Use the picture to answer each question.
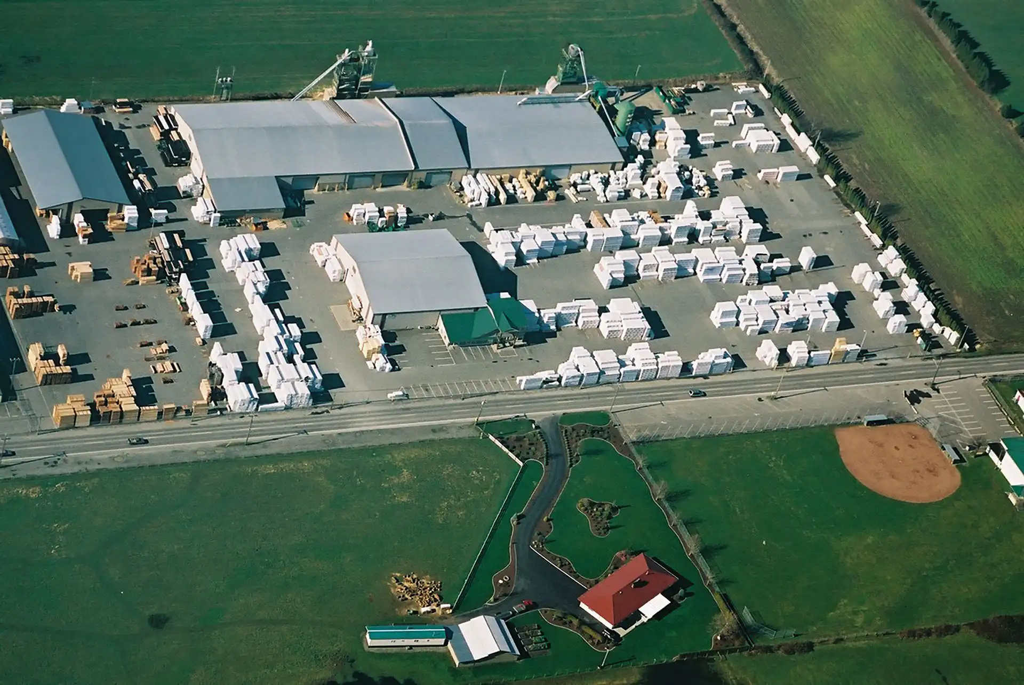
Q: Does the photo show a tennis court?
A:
No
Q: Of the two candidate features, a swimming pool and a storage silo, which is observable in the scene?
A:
storage silo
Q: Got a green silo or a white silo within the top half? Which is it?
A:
green silo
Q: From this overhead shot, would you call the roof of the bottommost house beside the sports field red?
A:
Yes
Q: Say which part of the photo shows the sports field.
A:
bottom right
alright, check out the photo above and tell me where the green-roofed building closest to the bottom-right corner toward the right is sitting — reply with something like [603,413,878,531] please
[986,430,1024,483]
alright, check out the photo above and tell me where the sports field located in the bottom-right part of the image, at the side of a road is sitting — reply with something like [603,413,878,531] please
[639,425,1024,647]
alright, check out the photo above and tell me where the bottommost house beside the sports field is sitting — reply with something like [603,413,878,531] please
[577,554,678,630]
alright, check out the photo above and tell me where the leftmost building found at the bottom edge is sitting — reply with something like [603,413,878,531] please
[365,625,445,653]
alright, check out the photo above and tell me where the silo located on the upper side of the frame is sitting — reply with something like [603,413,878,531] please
[614,97,641,132]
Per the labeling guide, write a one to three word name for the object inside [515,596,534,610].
vehicle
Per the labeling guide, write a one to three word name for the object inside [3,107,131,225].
shed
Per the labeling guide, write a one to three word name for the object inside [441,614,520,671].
barn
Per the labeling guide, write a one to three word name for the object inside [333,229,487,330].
building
